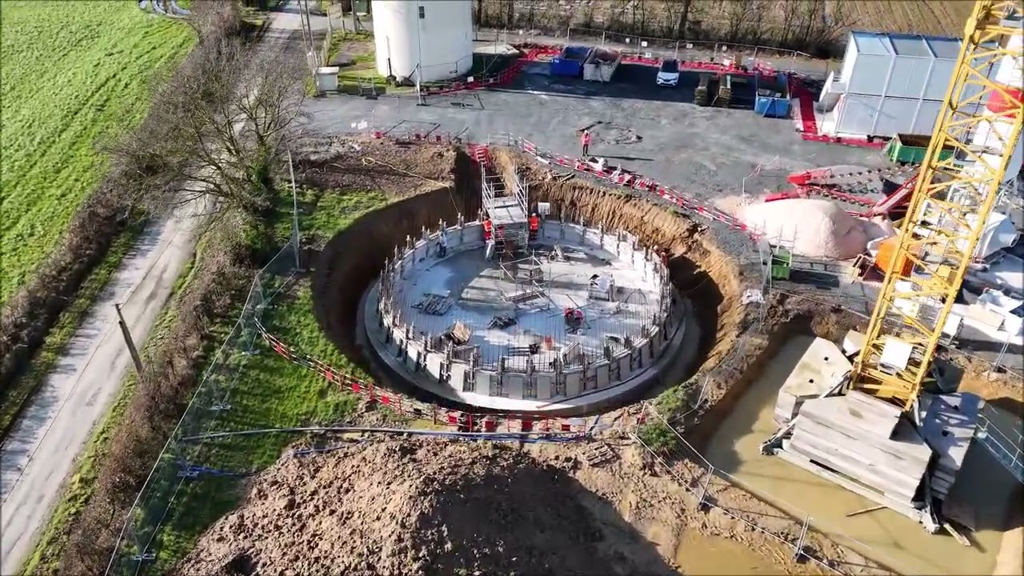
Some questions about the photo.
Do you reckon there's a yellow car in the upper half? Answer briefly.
No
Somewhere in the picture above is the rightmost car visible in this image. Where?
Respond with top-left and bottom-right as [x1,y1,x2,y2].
[656,59,682,86]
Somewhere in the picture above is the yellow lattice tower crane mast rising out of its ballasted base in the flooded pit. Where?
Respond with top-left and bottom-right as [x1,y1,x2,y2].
[758,0,1024,525]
